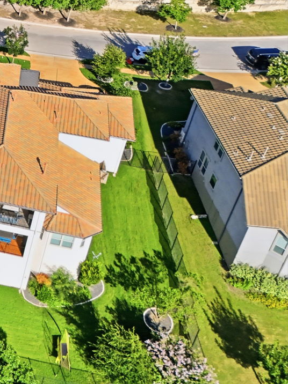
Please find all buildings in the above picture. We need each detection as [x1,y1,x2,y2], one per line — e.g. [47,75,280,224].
[184,82,288,277]
[0,57,135,285]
